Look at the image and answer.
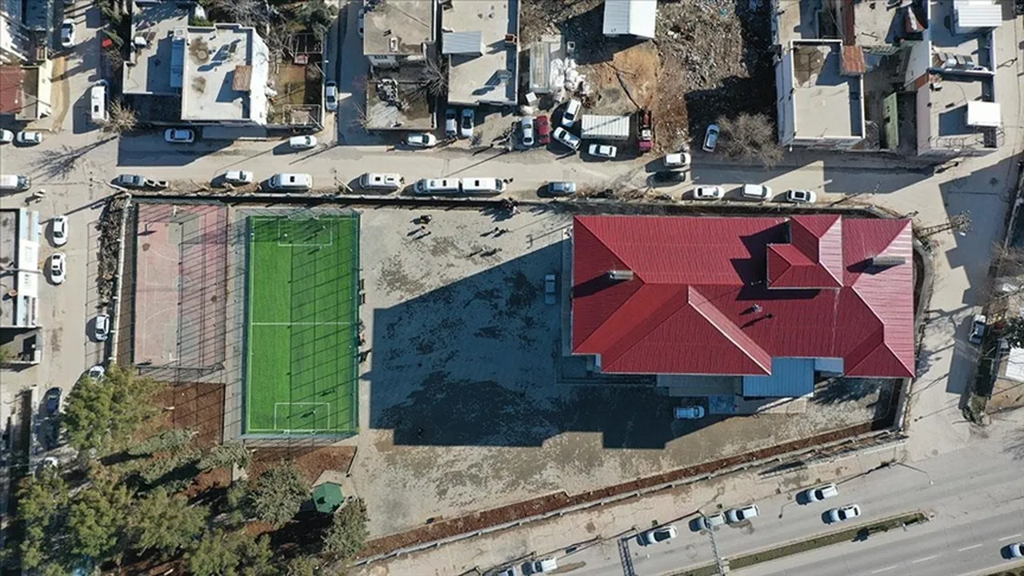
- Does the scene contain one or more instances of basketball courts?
Yes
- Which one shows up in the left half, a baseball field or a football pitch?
football pitch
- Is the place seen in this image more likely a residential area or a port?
residential area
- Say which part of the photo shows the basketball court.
left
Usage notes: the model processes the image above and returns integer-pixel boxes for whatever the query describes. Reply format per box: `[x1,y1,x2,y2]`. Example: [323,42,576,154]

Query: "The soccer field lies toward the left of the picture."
[244,214,359,435]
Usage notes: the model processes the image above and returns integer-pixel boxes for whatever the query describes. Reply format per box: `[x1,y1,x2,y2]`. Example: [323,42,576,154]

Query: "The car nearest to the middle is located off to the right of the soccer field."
[543,274,557,305]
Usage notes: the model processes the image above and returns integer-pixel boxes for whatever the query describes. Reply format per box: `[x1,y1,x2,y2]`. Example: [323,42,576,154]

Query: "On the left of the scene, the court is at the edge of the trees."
[132,204,227,365]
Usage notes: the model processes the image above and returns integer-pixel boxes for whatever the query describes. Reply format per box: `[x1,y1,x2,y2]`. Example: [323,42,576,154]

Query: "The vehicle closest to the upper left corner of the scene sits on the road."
[60,18,78,49]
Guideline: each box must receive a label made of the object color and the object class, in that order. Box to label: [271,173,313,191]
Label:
white vehicle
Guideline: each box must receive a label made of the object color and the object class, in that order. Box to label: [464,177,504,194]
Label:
white vehicle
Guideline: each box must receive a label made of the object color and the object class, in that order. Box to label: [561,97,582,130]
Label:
white car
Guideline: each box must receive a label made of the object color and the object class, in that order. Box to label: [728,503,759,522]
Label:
white car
